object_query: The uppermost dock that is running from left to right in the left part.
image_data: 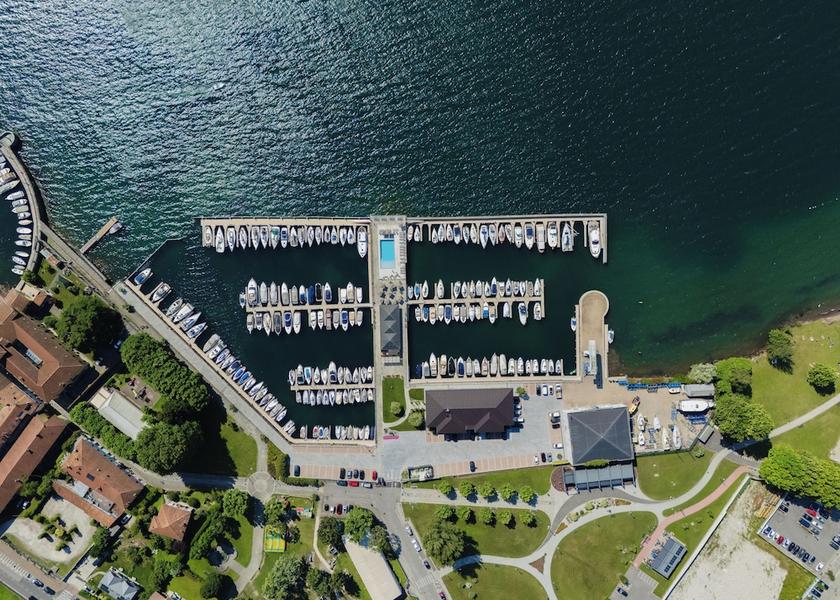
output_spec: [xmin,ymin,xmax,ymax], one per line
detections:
[199,216,371,246]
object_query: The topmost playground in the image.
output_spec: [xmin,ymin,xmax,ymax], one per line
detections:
[118,374,160,407]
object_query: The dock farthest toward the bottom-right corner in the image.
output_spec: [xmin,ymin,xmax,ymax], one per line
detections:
[575,290,609,381]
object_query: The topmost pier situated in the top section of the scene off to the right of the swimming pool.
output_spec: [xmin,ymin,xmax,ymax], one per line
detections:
[407,213,608,264]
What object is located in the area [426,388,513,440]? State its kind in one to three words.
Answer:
building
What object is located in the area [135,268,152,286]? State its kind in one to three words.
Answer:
boat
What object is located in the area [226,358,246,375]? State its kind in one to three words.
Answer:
boat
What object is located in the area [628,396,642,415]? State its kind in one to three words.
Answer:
vehicle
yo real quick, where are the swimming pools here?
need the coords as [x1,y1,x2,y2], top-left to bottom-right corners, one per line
[378,237,395,269]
